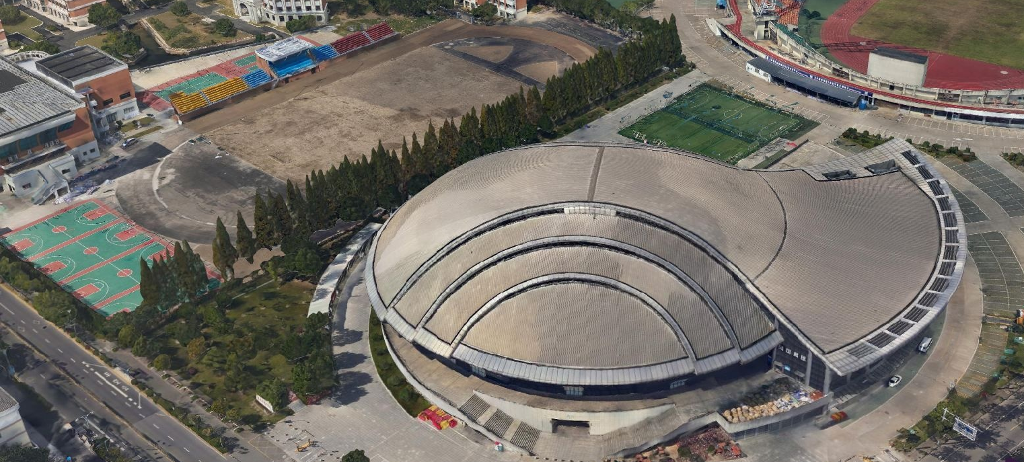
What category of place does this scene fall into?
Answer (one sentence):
This looks like a sports ground.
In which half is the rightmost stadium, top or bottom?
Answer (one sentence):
You can find the rightmost stadium in the top half.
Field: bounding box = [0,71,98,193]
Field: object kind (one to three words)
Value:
building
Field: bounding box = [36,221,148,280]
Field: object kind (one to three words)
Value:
basketball court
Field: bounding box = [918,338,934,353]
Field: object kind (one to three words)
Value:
vehicle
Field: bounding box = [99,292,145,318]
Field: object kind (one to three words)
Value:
basketball court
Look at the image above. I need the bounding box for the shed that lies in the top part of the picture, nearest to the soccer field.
[747,56,863,115]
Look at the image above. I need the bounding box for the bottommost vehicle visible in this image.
[885,375,904,388]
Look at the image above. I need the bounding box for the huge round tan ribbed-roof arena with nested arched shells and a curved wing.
[365,139,968,400]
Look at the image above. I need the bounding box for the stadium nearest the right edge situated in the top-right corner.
[706,0,1024,128]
